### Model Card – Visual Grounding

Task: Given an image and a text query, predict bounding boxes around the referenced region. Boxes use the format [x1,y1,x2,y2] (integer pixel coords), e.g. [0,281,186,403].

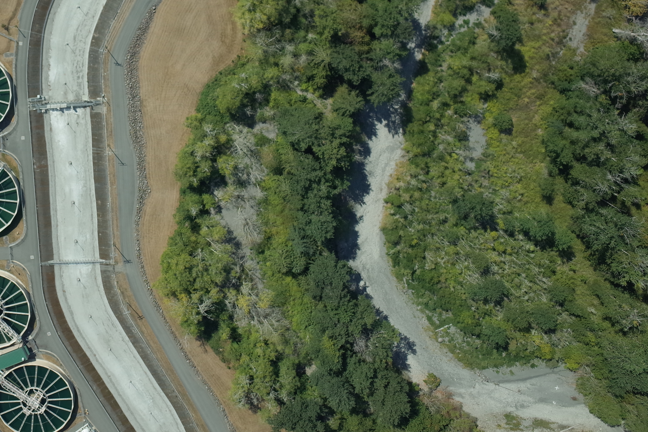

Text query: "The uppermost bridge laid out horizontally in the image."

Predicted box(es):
[29,94,102,113]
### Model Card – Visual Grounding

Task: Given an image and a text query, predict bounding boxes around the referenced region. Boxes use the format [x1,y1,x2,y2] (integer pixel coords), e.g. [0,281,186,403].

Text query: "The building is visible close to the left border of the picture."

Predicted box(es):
[0,340,31,370]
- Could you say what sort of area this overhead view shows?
industrial area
